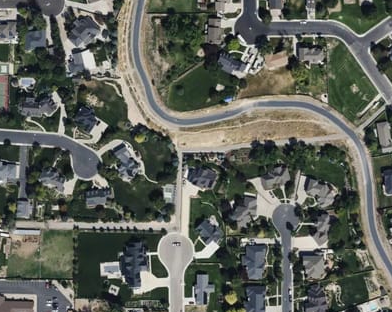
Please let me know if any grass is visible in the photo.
Yes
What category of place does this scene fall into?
residential area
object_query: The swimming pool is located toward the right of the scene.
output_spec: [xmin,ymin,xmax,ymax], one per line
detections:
[358,299,388,312]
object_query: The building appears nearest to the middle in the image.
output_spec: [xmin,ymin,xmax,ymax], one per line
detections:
[187,163,219,190]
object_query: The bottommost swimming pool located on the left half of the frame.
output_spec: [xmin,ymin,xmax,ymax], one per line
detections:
[100,262,121,278]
